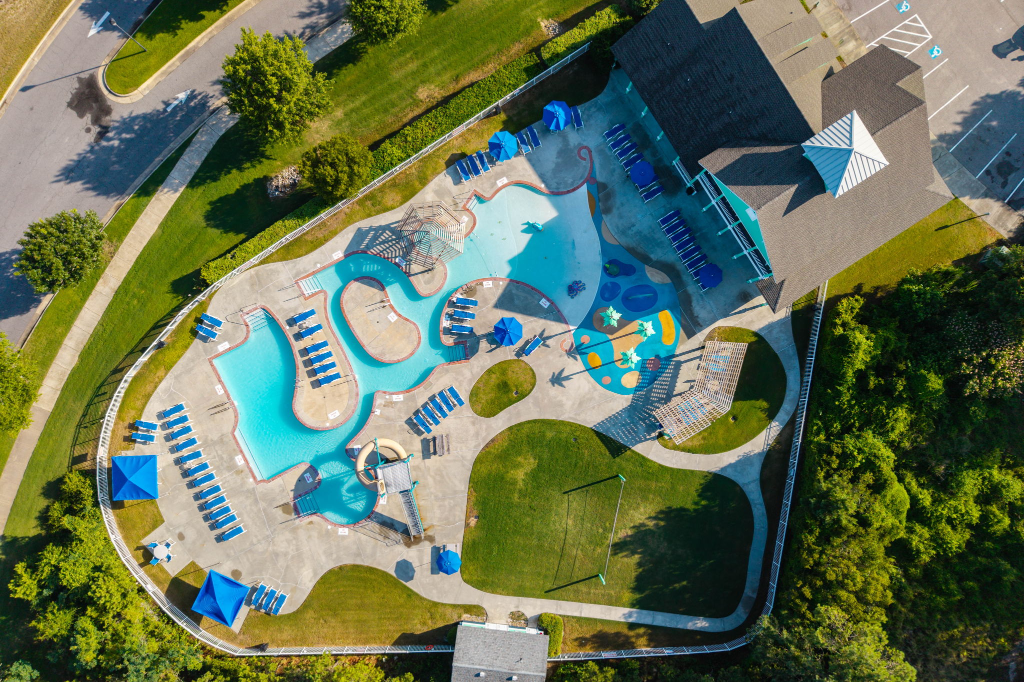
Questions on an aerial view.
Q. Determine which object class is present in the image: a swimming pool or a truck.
swimming pool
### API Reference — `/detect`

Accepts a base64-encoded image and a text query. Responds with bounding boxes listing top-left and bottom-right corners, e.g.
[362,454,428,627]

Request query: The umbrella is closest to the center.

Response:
[494,316,522,345]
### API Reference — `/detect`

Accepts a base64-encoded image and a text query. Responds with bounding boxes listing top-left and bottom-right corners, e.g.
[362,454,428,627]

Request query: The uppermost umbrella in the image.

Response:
[542,103,571,132]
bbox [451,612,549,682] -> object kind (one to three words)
building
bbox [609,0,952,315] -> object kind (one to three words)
building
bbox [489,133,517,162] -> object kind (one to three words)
umbrella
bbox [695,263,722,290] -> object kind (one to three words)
umbrella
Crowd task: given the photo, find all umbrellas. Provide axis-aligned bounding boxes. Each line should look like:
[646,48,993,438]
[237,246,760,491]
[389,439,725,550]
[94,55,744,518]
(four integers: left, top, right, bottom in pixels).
[695,263,722,290]
[435,546,464,575]
[494,316,522,345]
[489,133,517,162]
[542,103,571,132]
[628,160,657,189]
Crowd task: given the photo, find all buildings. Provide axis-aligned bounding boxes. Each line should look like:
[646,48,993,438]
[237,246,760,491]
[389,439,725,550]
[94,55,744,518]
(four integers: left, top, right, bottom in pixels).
[451,612,549,682]
[609,0,952,315]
